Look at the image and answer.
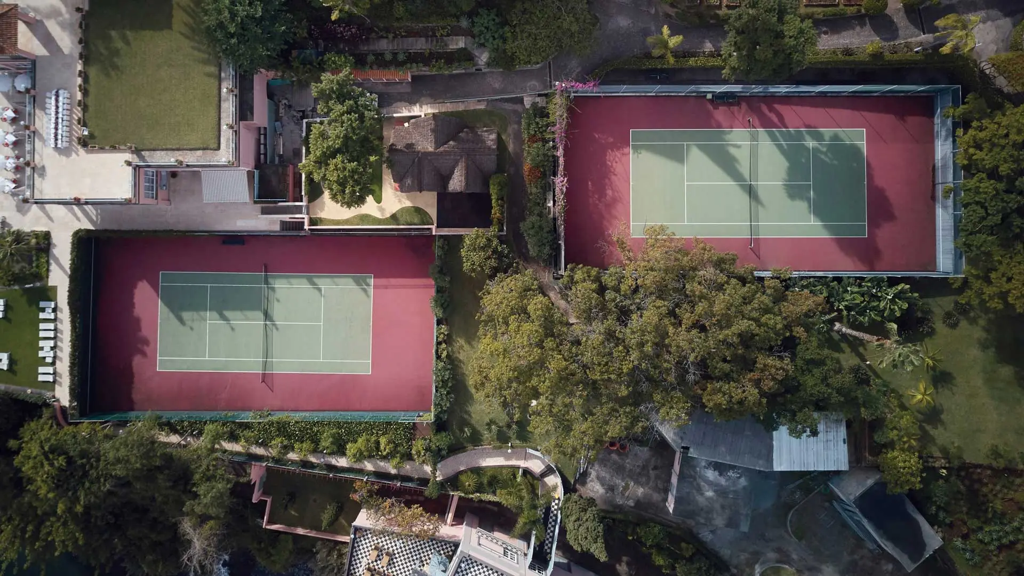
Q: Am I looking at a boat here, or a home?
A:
home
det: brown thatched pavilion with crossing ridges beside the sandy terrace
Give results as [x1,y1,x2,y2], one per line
[392,117,500,202]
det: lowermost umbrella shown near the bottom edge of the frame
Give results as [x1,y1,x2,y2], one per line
[429,552,449,573]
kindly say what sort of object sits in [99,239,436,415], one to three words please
tennis court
